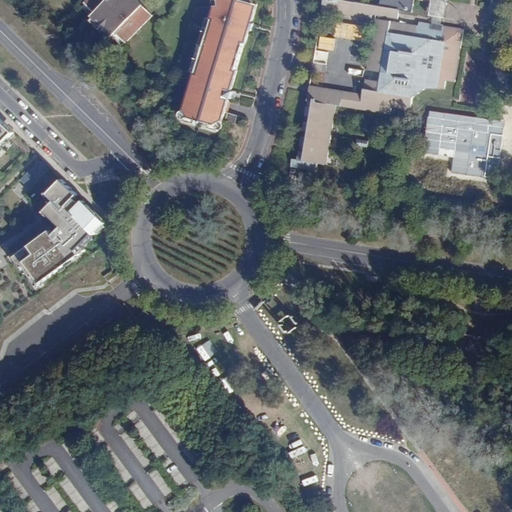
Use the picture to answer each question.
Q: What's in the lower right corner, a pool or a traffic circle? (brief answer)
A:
traffic circle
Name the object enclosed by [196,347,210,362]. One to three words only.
vehicle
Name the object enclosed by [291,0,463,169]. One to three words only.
building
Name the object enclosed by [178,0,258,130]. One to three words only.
building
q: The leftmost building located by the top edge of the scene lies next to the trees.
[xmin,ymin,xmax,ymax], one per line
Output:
[87,0,154,45]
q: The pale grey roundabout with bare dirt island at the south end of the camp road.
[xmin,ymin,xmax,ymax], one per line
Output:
[322,430,454,512]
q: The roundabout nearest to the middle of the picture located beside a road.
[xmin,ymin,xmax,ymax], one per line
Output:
[132,171,262,302]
